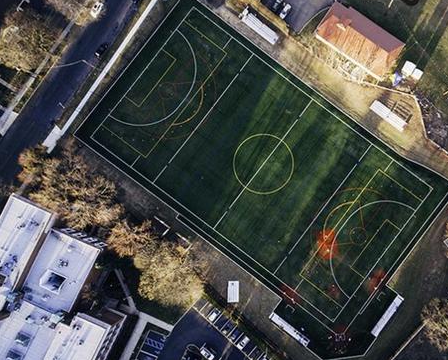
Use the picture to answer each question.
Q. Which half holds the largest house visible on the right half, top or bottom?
top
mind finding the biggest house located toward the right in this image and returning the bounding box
[317,1,406,80]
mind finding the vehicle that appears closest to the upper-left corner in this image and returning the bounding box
[91,2,104,17]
